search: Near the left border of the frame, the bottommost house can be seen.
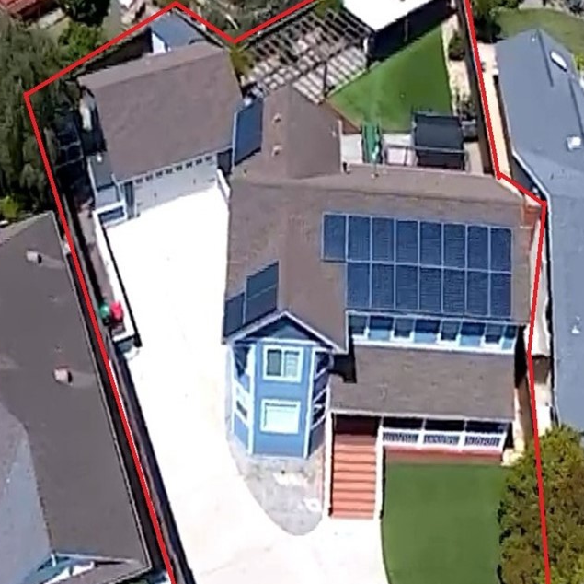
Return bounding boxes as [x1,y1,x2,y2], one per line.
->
[0,214,152,584]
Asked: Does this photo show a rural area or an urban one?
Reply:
urban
